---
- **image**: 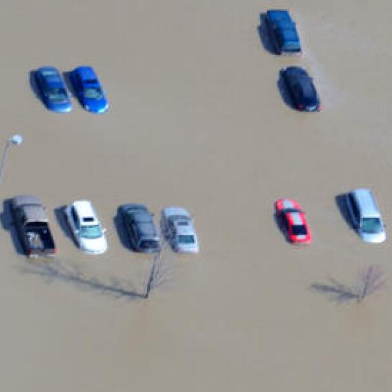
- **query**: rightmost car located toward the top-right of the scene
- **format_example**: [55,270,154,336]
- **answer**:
[288,69,325,111]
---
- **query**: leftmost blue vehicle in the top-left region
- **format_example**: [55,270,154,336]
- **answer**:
[37,65,71,113]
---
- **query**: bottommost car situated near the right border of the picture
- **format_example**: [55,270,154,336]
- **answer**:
[346,187,388,243]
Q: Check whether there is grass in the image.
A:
No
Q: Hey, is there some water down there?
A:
Yes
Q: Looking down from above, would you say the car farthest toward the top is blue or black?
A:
blue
